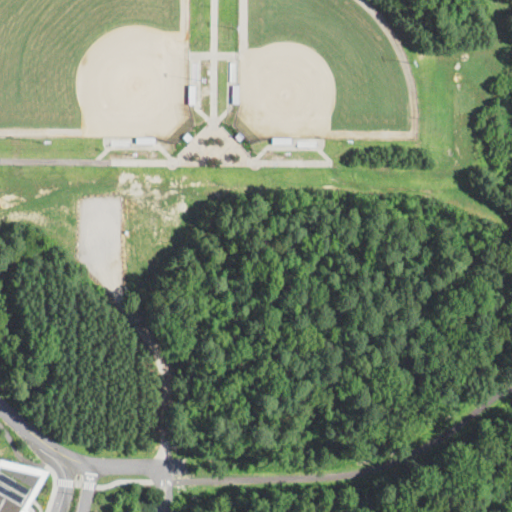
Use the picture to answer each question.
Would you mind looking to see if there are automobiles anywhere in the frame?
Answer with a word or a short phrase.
No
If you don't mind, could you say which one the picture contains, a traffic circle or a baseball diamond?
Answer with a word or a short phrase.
baseball diamond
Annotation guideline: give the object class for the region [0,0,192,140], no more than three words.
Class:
baseball field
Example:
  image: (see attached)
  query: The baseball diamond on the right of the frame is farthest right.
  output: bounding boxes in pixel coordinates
[236,0,418,141]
